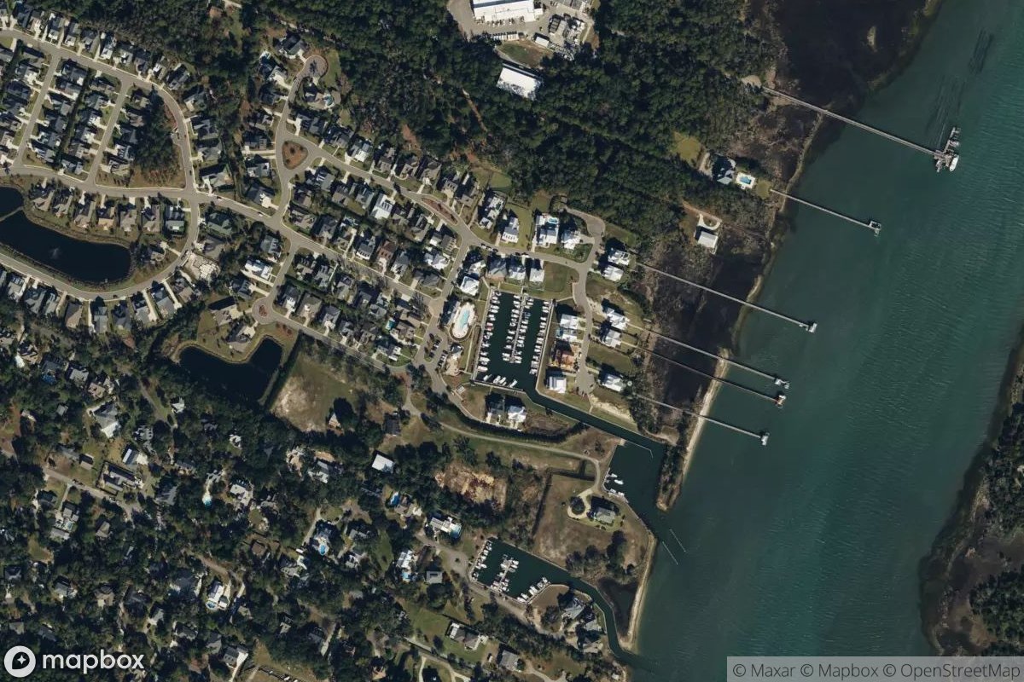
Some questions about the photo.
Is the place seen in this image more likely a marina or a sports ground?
marina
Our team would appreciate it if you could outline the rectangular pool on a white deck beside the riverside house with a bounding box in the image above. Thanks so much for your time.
[736,171,757,189]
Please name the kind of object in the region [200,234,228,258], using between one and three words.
house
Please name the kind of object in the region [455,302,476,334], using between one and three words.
swimming pool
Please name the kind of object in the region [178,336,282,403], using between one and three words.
pond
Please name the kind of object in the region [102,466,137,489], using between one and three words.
house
